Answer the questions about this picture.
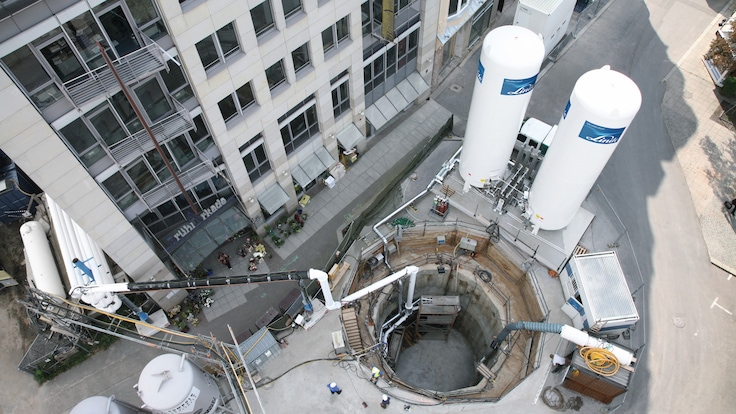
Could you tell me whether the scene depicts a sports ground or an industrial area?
industrial area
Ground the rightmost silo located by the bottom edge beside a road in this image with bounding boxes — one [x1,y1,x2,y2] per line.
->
[134,350,219,414]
